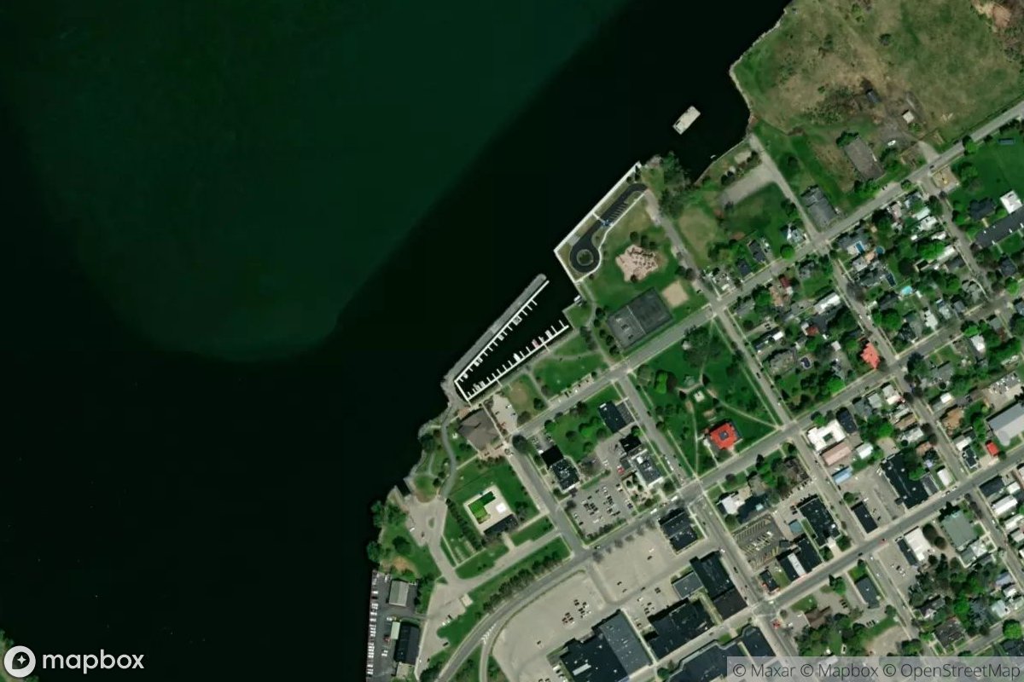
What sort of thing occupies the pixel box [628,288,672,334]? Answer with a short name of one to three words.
tennis court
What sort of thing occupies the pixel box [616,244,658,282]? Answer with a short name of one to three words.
playground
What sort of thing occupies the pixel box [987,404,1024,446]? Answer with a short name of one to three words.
building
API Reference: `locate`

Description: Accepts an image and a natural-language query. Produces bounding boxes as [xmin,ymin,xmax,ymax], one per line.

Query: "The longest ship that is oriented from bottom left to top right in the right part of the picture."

[674,107,699,133]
